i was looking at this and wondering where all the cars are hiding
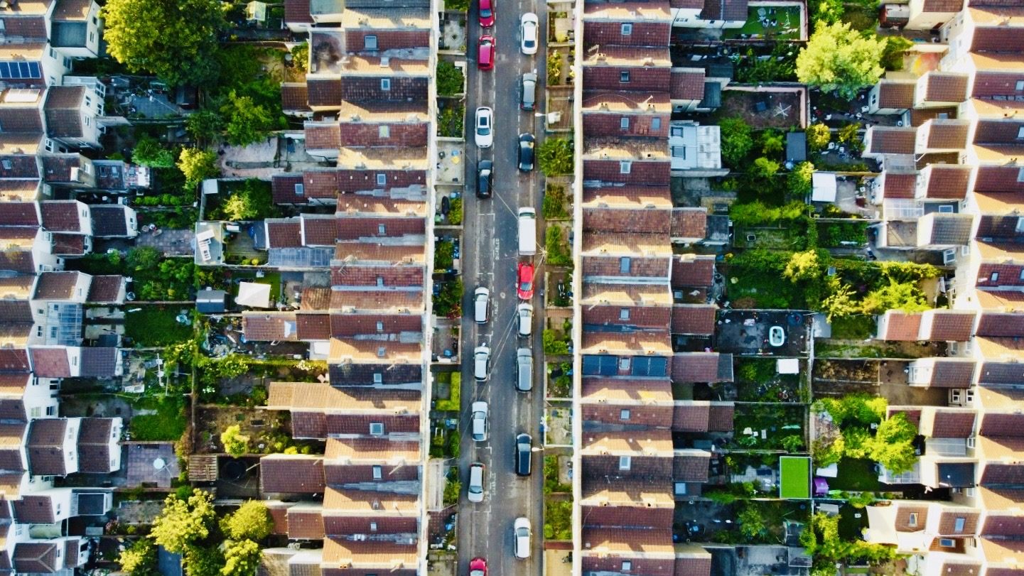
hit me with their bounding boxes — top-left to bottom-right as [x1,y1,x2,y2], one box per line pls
[513,516,532,559]
[470,401,489,441]
[473,346,491,381]
[467,462,485,502]
[477,38,496,71]
[478,0,495,29]
[515,347,533,391]
[476,161,494,198]
[468,554,487,576]
[514,432,531,476]
[474,108,494,148]
[517,263,535,299]
[473,287,490,323]
[520,15,538,56]
[516,303,533,337]
[521,75,537,111]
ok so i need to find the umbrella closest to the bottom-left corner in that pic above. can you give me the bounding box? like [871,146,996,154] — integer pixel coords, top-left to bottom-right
[155,456,173,469]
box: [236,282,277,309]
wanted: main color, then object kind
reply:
white tent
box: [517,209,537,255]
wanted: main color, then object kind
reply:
white vehicle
